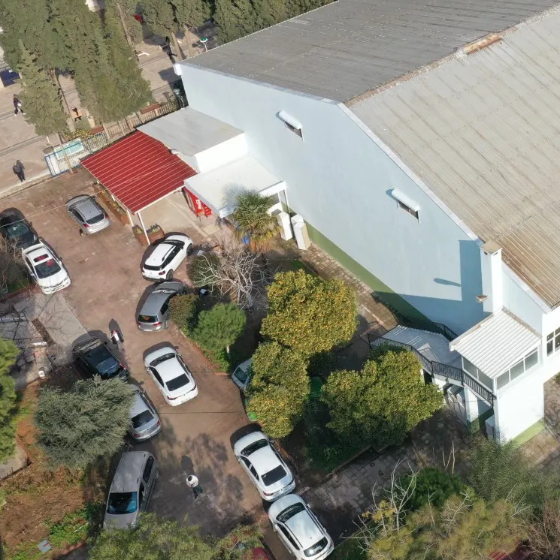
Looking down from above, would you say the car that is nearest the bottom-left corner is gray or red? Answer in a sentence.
In this view, the car that is nearest the bottom-left corner is gray.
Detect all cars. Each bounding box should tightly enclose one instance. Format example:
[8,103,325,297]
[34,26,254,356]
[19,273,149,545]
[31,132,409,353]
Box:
[232,427,294,504]
[67,332,136,388]
[15,243,73,291]
[63,197,115,235]
[266,489,339,560]
[100,442,159,534]
[137,278,185,331]
[145,345,200,408]
[225,341,260,407]
[0,206,45,252]
[113,383,170,447]
[136,231,191,282]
